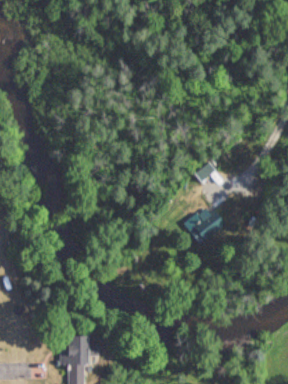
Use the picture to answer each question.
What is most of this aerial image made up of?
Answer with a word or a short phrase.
trees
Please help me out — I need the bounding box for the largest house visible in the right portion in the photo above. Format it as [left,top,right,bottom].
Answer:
[184,204,225,238]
